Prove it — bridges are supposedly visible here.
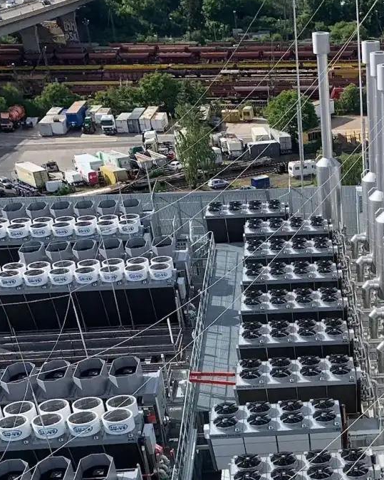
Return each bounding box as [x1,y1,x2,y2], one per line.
[0,0,92,46]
